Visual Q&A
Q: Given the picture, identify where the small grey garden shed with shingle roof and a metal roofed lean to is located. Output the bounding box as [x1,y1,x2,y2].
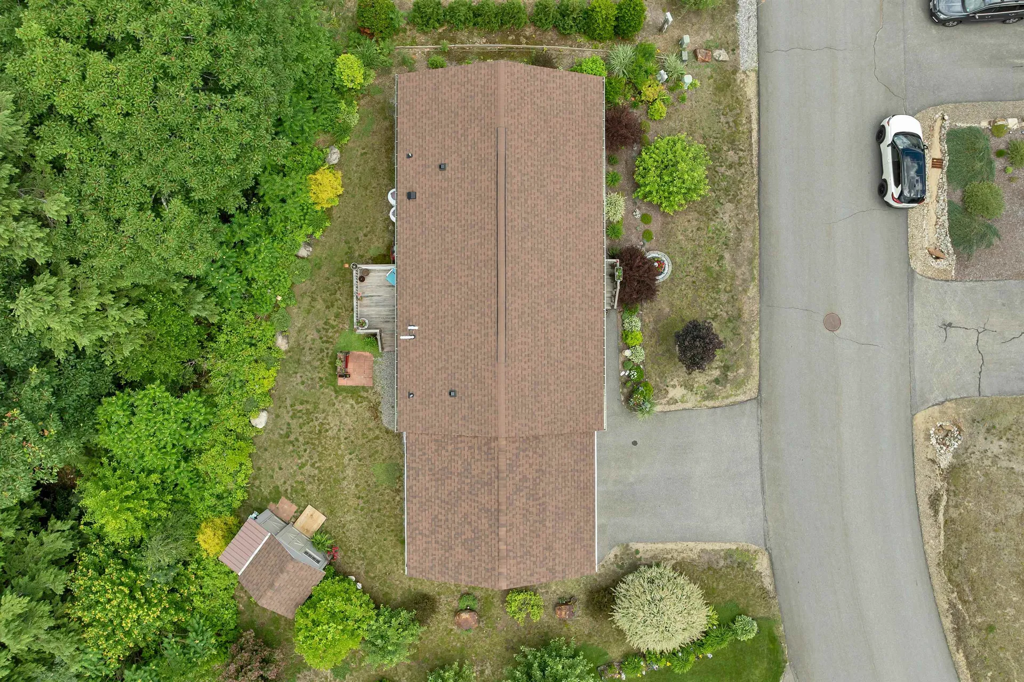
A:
[219,510,334,617]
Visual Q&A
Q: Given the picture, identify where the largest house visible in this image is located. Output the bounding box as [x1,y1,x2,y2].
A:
[396,59,606,588]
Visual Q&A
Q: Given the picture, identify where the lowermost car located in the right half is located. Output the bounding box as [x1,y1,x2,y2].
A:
[872,115,929,210]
